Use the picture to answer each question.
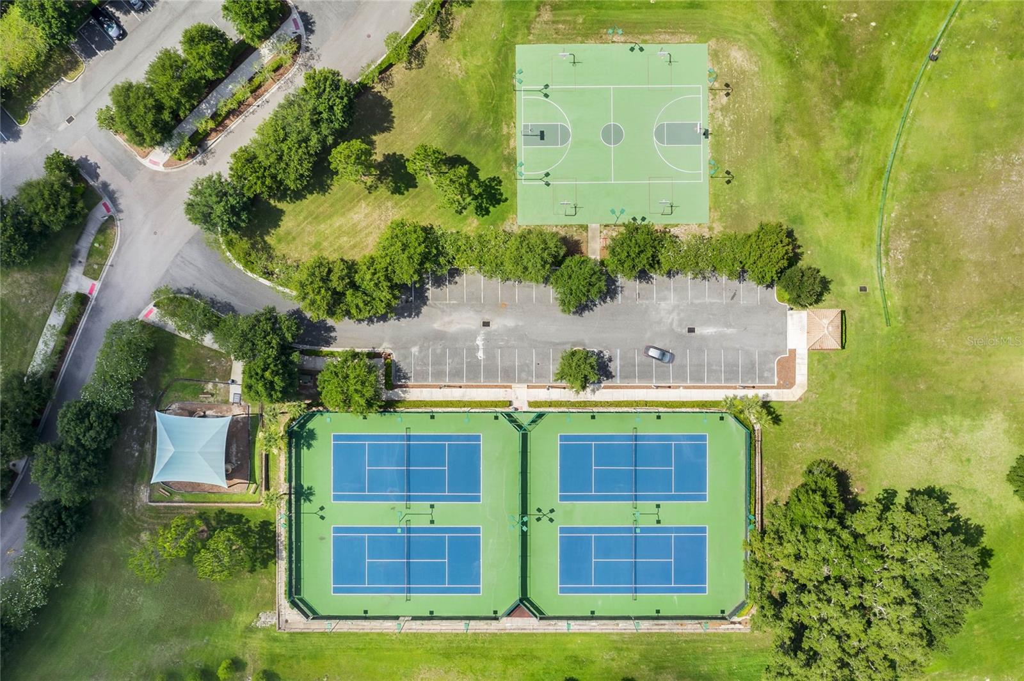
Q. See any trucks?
No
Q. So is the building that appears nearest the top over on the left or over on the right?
right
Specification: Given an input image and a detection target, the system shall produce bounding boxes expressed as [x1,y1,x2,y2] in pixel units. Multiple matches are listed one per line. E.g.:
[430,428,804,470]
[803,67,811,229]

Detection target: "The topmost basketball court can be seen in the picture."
[516,43,709,225]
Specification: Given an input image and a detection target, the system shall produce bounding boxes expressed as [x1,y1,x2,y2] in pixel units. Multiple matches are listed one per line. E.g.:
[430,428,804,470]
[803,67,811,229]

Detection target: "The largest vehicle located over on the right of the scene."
[644,346,675,363]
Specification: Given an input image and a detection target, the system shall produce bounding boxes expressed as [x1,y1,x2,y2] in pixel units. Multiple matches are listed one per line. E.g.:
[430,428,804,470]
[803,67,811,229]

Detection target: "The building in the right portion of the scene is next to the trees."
[804,309,842,350]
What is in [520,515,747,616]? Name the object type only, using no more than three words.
tennis court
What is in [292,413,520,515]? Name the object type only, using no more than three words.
tennis court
